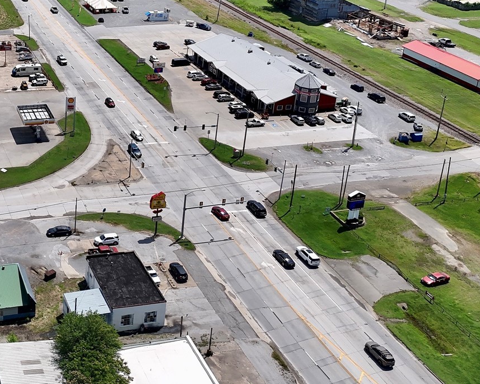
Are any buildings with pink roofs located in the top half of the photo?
Yes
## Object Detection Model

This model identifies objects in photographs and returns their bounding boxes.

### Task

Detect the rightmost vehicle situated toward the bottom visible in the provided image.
[421,272,454,287]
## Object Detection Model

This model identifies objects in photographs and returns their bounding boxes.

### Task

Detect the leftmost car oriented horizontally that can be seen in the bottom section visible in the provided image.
[46,226,74,239]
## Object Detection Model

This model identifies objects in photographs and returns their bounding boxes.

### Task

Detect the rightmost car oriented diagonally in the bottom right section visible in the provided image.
[362,337,399,368]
